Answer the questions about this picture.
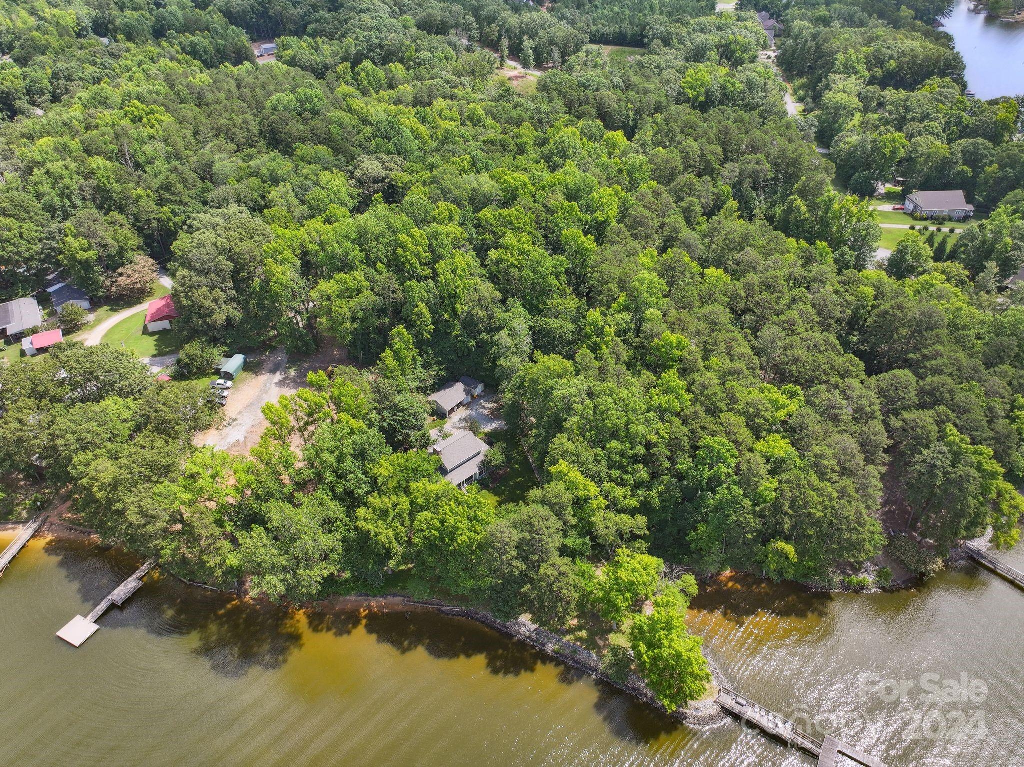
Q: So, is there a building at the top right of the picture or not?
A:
Yes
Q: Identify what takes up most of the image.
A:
trees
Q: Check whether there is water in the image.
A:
Yes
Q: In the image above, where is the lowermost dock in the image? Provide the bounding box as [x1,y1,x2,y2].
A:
[818,736,888,767]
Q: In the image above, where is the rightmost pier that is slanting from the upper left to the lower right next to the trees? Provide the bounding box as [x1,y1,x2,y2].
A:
[961,547,1024,588]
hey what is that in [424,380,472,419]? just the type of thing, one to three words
building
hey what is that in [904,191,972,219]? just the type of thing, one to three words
house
